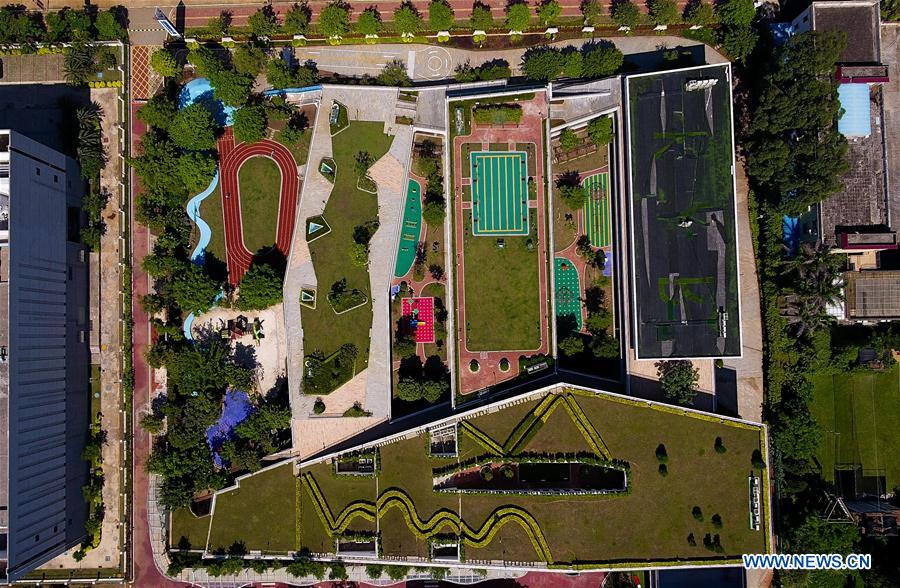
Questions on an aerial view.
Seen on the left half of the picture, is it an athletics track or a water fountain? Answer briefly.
athletics track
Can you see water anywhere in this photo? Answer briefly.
No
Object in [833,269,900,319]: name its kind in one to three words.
building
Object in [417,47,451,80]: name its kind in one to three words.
roundabout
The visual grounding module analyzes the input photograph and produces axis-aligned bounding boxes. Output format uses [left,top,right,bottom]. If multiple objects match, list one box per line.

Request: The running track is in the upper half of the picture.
[217,127,300,287]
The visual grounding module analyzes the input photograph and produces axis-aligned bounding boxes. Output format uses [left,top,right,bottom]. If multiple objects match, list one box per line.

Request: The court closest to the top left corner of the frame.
[396,177,423,278]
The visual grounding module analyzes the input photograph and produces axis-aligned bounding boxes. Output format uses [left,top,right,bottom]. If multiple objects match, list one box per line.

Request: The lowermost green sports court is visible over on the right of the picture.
[553,254,582,333]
